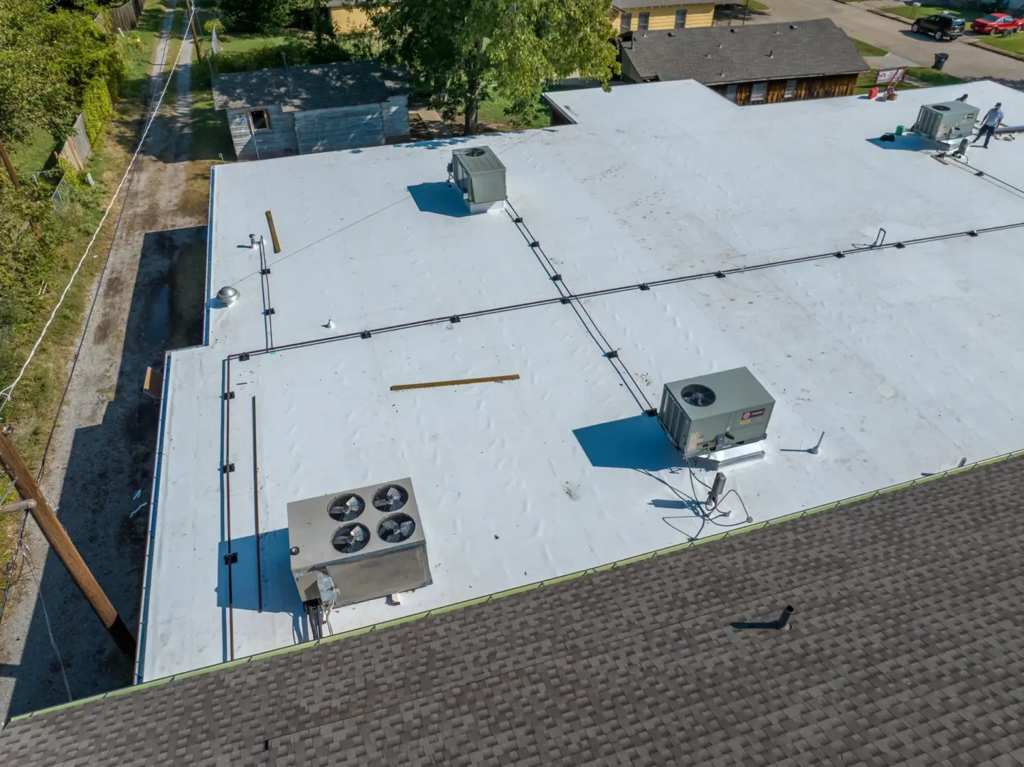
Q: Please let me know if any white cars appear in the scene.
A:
No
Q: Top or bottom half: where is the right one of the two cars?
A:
top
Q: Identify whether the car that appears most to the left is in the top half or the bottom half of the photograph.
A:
top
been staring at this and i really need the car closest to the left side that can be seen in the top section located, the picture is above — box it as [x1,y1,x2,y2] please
[908,8,971,40]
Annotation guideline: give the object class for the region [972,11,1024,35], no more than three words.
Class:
car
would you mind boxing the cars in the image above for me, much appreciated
[972,11,1024,35]
[908,8,971,40]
